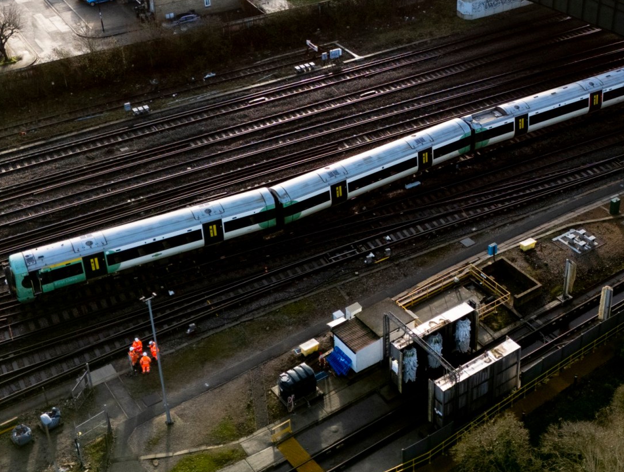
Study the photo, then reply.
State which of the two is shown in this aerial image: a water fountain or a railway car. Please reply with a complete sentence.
Of the two, only a railway car appears.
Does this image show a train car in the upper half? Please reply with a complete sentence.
Yes, I can see a train car in the upper half.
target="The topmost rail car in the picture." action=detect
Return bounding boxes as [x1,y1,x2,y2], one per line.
[459,64,624,152]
